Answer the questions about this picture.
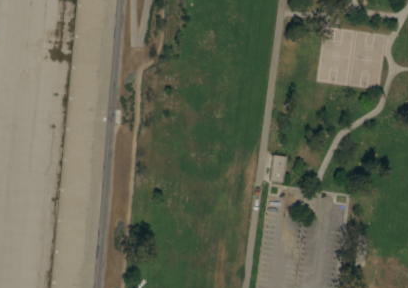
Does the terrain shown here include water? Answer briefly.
Yes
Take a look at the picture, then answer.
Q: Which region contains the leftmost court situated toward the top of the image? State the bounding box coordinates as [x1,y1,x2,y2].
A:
[317,27,354,85]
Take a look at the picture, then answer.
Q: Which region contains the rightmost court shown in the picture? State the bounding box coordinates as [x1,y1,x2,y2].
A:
[349,30,386,88]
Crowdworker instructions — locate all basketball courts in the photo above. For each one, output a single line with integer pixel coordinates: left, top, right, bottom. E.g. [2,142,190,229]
[317,27,354,85]
[349,30,386,88]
